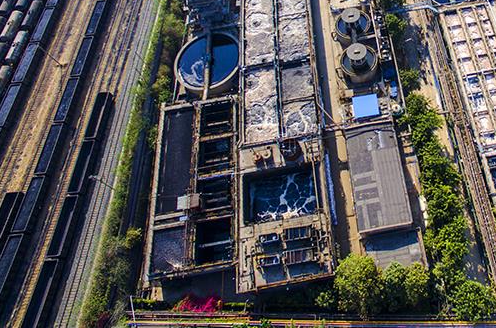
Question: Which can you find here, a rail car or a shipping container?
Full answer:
Visible in the photo is a rail car.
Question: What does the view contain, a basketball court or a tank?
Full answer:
The one in the frame is a tank.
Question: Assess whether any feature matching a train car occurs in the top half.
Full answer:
Yes, in the top half there is a train car.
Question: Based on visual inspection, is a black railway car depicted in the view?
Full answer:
Yes, you can see a black railway car in this photo.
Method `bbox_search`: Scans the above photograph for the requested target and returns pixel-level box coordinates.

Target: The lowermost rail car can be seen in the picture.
[20,304,48,328]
